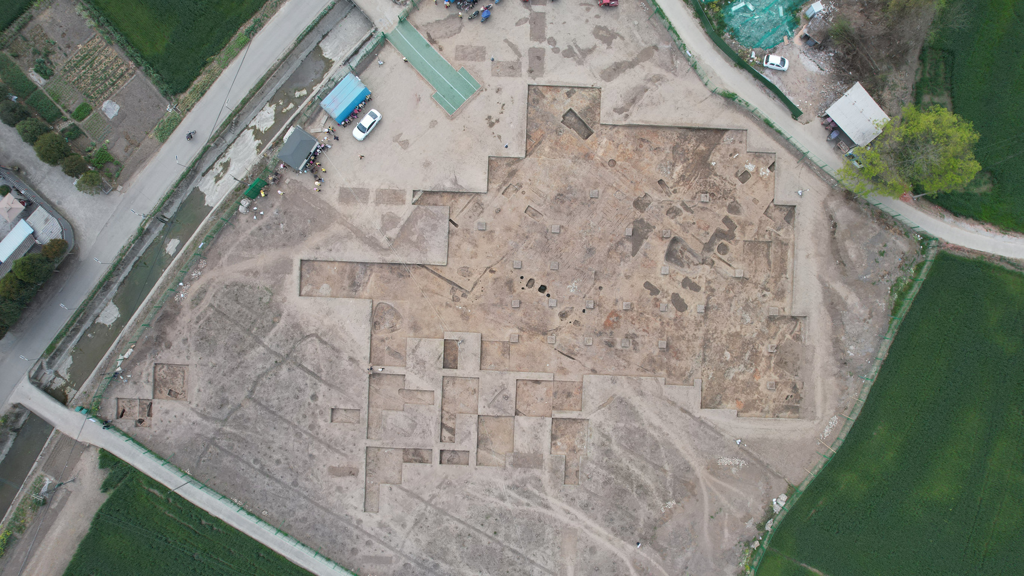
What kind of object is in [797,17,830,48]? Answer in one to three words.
shed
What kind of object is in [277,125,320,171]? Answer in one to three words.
building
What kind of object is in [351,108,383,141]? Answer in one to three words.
car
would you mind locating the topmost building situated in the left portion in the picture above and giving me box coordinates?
[321,73,373,126]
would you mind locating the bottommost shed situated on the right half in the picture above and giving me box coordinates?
[818,82,888,149]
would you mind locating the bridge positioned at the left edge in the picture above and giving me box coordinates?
[5,371,90,443]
